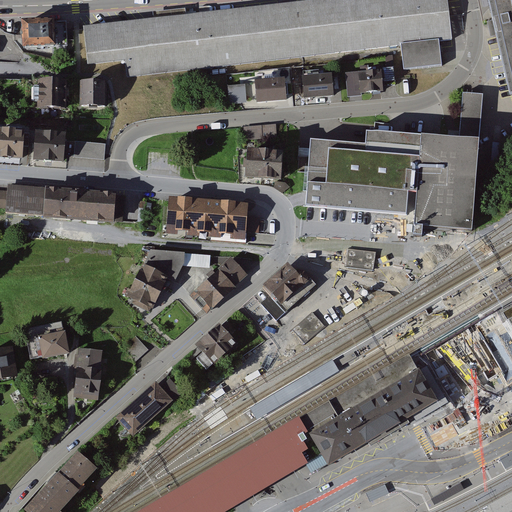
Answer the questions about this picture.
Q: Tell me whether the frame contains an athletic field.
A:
No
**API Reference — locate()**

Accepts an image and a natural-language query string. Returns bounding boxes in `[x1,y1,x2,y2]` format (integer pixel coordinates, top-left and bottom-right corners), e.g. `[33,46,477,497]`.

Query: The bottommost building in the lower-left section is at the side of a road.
[24,472,80,512]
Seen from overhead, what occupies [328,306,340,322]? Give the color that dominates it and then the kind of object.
white vehicle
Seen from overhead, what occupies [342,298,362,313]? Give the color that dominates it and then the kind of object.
white vehicle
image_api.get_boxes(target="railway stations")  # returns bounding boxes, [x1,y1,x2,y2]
[310,368,438,464]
